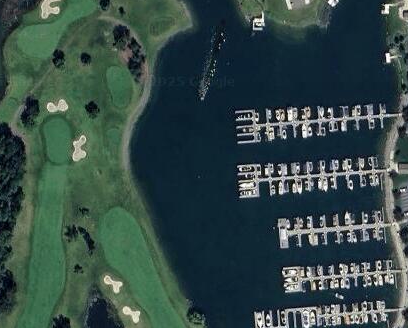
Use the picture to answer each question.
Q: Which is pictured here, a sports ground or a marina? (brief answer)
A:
marina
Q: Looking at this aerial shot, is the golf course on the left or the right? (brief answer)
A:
left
